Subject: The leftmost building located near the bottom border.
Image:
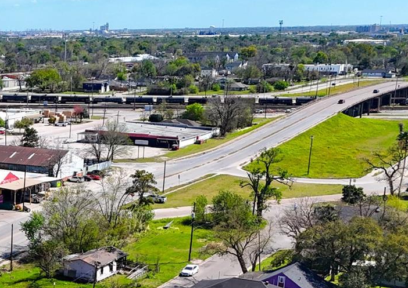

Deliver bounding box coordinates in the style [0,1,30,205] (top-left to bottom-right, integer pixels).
[64,249,120,283]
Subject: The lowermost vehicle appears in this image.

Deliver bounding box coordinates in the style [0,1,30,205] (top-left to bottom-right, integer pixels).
[178,262,201,276]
